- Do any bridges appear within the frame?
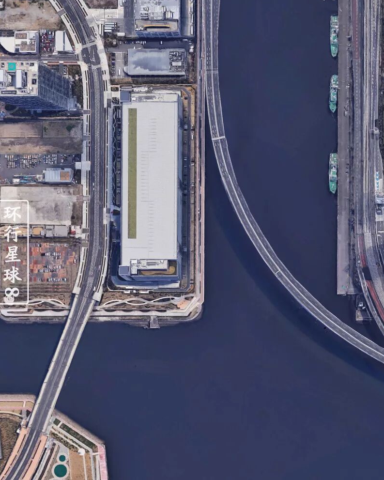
Yes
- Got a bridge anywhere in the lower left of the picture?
Yes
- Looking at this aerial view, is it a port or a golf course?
port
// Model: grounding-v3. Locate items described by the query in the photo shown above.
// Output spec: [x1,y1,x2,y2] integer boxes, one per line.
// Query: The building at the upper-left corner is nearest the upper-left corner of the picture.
[0,31,41,52]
